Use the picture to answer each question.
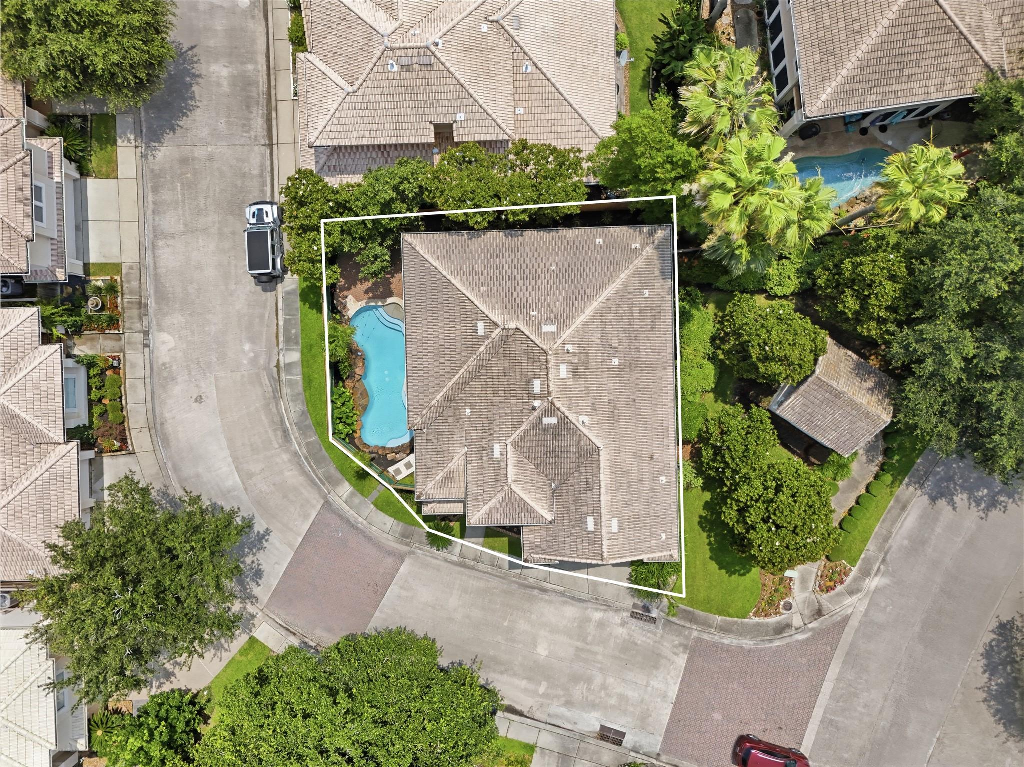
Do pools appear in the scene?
Yes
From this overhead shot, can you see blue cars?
No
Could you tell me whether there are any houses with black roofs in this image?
No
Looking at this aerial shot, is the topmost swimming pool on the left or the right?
right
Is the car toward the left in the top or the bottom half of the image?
top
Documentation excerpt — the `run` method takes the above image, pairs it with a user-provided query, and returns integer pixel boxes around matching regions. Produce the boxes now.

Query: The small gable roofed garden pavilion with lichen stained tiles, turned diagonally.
[769,337,899,460]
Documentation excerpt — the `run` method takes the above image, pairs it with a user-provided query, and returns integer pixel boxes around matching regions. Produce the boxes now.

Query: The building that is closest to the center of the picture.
[400,223,681,566]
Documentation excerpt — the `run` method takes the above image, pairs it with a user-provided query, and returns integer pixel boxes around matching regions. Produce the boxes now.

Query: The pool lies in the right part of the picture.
[753,147,916,205]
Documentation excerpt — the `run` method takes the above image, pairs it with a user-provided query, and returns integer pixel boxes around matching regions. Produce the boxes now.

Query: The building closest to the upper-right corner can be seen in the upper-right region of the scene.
[766,0,1024,137]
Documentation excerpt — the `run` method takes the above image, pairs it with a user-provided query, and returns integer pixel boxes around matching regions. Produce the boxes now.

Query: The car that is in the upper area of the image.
[243,199,285,282]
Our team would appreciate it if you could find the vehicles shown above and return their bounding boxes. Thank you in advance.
[243,199,285,282]
[731,738,815,767]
